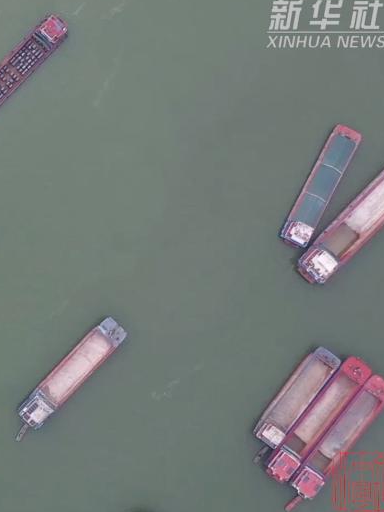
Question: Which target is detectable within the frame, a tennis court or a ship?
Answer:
ship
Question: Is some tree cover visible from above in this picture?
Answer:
No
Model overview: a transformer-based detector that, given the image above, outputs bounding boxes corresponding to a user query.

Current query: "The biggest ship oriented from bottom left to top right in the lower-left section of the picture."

[19,316,127,429]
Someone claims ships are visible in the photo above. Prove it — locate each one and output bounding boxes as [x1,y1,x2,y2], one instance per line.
[254,344,342,448]
[0,14,69,106]
[289,373,384,500]
[300,168,384,288]
[280,124,361,248]
[19,316,127,429]
[266,354,373,483]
